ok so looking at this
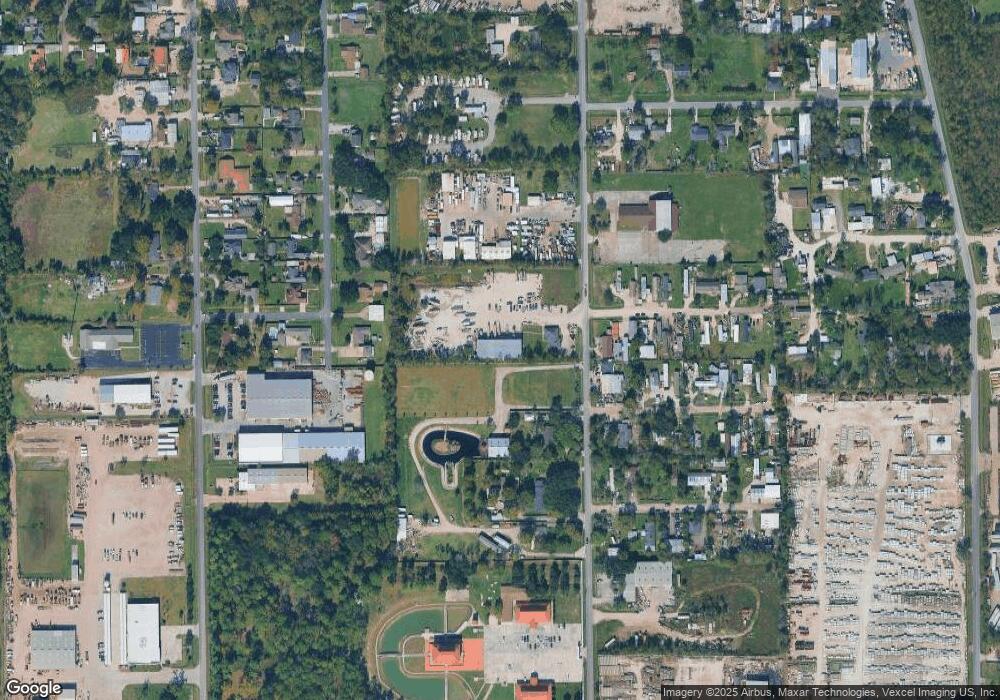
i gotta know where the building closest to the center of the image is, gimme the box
[477,339,522,358]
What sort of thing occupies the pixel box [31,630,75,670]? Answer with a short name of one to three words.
building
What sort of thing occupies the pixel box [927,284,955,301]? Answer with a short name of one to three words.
house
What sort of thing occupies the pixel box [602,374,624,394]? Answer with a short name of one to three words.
building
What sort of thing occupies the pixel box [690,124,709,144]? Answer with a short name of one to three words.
house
